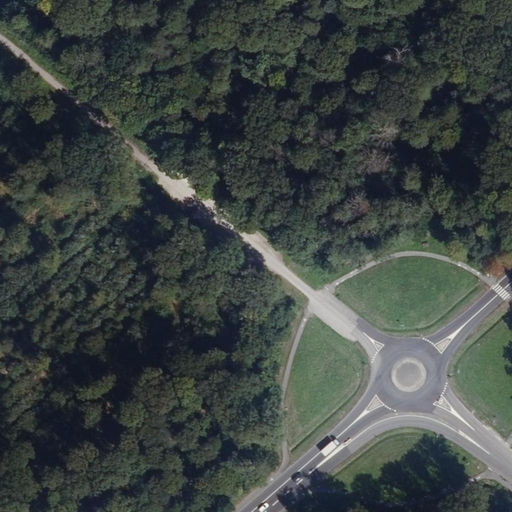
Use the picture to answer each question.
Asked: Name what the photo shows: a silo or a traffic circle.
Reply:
traffic circle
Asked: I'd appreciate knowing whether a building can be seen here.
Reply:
No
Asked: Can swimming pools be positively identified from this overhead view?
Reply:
No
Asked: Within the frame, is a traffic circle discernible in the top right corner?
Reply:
No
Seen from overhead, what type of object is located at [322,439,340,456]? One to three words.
vehicle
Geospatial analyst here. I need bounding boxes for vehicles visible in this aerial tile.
[322,439,340,456]
[260,504,268,512]
[294,474,302,482]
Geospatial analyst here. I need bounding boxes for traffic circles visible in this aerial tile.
[352,318,450,412]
